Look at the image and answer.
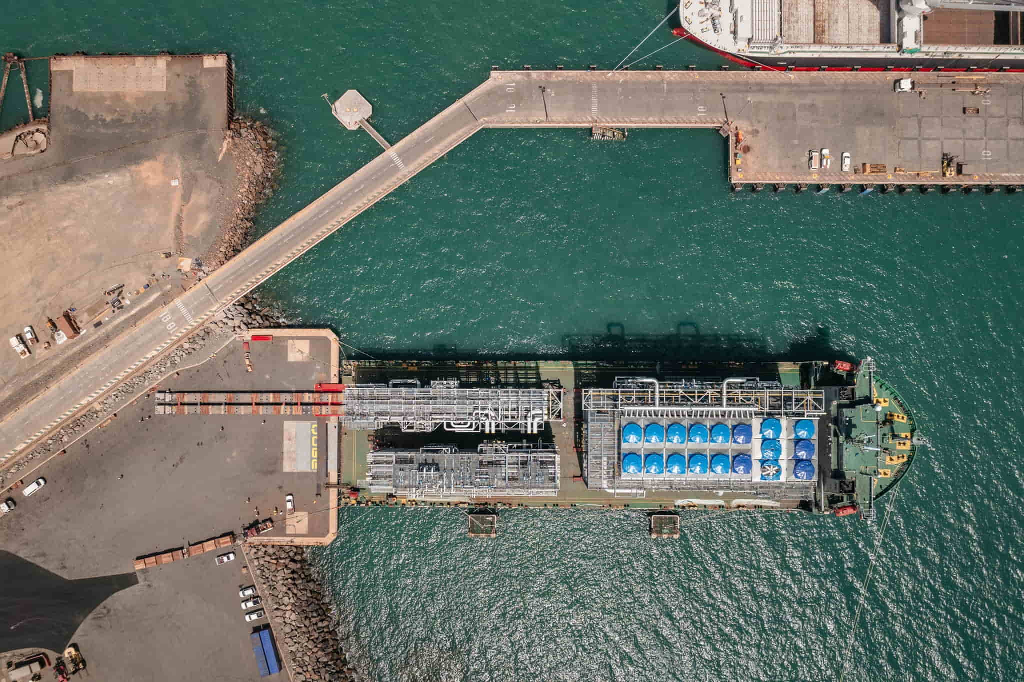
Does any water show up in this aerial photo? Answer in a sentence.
Yes, water shows up in the scene.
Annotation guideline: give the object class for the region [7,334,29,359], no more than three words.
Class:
truck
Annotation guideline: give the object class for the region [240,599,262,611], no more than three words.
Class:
vehicle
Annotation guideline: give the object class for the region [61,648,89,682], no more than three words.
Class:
work vehicle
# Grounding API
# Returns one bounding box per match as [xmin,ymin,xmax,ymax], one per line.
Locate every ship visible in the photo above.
[342,356,930,524]
[672,0,1024,68]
